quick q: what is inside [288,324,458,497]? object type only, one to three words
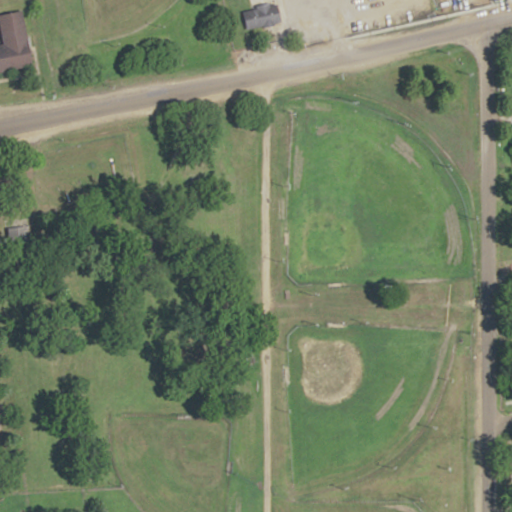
baseball field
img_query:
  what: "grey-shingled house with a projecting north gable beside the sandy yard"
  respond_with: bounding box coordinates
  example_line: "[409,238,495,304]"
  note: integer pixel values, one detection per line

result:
[244,2,281,30]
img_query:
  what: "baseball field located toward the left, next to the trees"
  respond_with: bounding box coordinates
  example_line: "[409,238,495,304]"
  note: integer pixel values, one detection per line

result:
[107,413,231,512]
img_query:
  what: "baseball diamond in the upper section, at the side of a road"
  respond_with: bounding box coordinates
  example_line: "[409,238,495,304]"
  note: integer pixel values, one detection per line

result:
[285,96,476,286]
